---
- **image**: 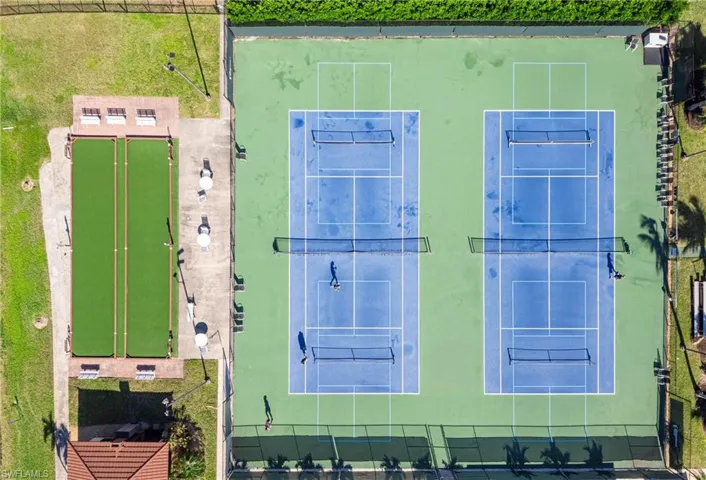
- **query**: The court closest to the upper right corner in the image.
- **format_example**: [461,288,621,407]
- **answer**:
[513,63,586,223]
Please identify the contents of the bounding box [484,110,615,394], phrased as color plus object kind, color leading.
blue tennis court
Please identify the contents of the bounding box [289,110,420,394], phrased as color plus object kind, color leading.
blue tennis court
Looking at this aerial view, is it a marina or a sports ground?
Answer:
sports ground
